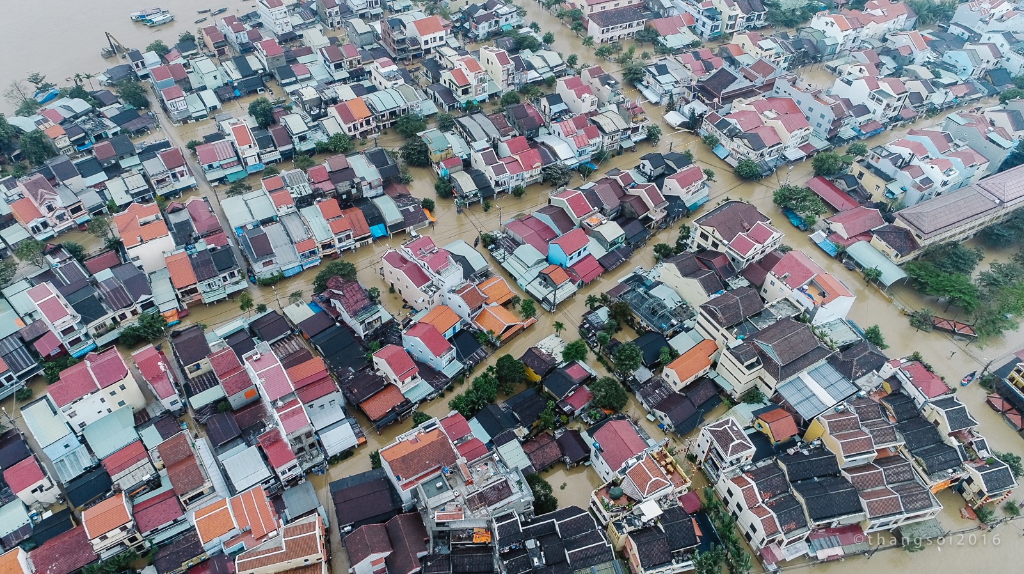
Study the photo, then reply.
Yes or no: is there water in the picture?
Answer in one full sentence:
Yes, the picture does contain water.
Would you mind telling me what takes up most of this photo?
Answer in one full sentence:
For the most part, this view shows buildings.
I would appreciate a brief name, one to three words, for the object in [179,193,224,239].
house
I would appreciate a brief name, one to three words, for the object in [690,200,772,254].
house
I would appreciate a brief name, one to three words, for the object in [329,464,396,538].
shed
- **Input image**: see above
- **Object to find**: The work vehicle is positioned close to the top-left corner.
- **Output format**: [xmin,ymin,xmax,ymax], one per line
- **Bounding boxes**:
[106,32,134,57]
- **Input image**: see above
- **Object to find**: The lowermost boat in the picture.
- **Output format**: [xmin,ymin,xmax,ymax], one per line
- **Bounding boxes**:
[960,369,978,387]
